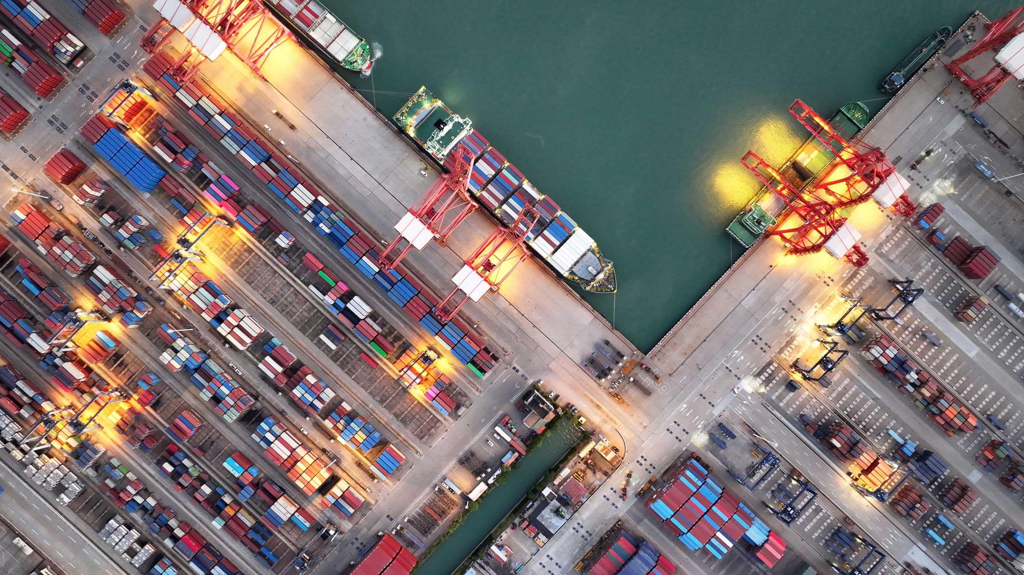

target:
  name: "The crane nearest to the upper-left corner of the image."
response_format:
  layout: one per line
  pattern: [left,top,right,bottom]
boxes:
[99,77,155,128]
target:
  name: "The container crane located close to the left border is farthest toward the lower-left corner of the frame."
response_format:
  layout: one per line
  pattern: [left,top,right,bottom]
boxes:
[24,403,76,451]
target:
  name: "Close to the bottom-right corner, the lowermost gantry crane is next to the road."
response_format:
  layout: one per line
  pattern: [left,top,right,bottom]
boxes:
[833,536,887,575]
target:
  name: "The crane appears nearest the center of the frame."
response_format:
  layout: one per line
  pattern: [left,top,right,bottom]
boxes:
[431,197,539,323]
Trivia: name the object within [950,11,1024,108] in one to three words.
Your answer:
container crane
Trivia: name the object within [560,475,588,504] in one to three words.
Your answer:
building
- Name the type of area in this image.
port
